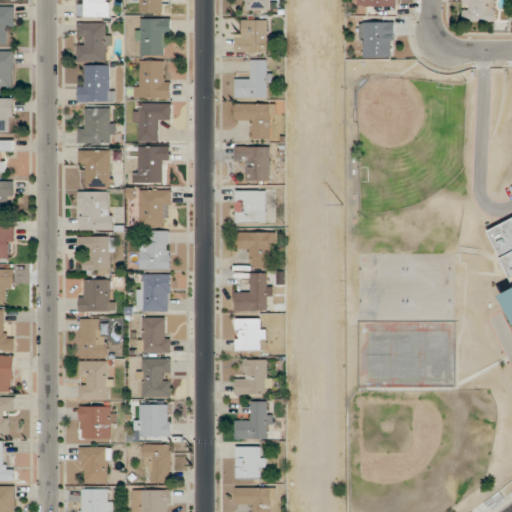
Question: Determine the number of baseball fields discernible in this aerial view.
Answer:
two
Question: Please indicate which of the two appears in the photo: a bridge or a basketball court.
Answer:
basketball court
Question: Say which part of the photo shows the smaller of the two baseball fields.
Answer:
bottom right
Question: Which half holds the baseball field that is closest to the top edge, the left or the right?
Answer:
right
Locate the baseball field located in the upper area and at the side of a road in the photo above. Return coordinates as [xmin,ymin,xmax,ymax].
[358,76,466,212]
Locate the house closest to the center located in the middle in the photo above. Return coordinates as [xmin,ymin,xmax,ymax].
[237,232,278,272]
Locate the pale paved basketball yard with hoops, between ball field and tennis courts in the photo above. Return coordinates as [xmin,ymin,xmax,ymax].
[360,254,455,321]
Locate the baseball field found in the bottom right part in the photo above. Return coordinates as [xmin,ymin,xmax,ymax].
[362,398,442,483]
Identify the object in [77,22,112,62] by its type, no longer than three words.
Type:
house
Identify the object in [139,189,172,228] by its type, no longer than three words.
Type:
house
